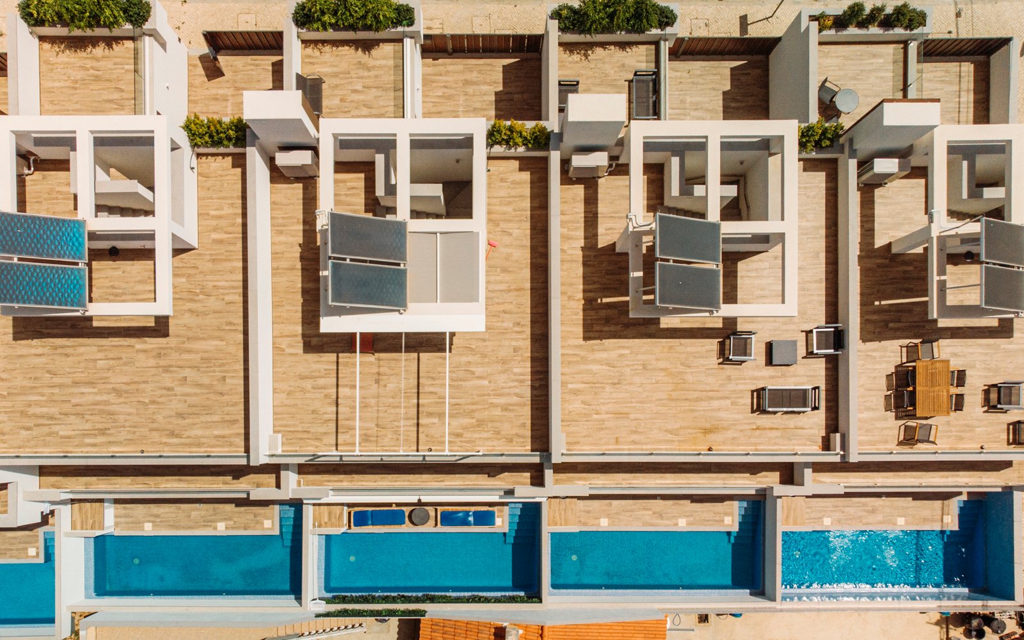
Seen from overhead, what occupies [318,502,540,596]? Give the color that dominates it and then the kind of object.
blue swimming pool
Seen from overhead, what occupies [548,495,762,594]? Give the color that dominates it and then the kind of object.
blue swimming pool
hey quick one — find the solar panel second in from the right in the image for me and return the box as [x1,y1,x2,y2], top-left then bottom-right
[621,209,721,316]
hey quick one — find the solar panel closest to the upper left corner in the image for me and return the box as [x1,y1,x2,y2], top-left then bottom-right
[0,212,88,315]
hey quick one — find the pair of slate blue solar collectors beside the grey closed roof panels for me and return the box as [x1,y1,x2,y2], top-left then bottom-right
[313,209,408,315]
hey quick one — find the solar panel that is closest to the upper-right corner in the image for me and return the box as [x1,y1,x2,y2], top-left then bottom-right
[918,208,1024,319]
